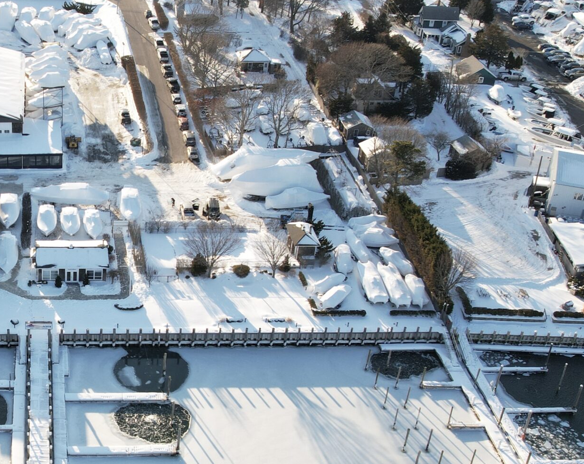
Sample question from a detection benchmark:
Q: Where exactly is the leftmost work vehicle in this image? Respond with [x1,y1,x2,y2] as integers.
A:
[63,132,81,150]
